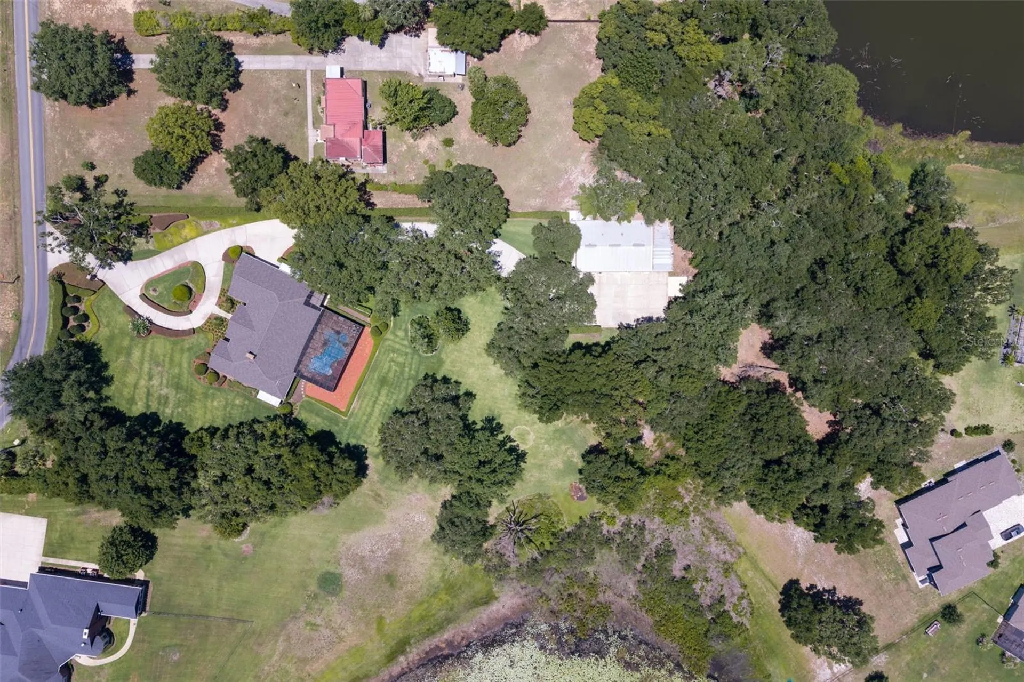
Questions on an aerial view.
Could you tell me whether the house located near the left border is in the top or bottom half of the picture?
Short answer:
bottom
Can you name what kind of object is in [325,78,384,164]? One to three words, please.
house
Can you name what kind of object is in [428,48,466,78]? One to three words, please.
shed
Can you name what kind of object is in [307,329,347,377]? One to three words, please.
swimming pool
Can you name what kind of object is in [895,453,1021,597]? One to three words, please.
house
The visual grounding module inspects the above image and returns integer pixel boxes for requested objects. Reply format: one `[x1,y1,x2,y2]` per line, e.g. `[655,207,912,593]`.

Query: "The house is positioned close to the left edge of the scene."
[0,572,147,682]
